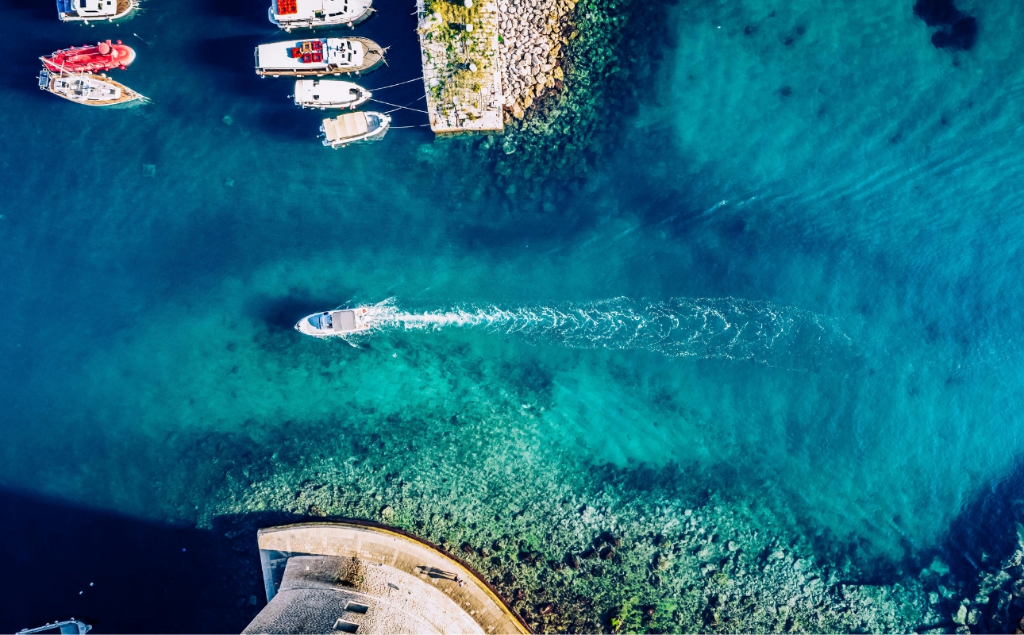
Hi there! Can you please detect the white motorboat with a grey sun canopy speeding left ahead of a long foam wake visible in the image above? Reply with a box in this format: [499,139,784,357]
[294,308,373,338]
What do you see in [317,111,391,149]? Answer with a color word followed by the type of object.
white boat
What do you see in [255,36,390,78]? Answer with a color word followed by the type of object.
white boat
